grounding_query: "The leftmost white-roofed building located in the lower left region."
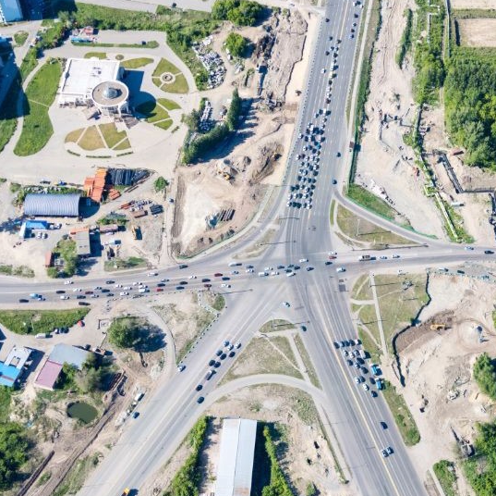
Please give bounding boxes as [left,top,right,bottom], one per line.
[2,346,34,376]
